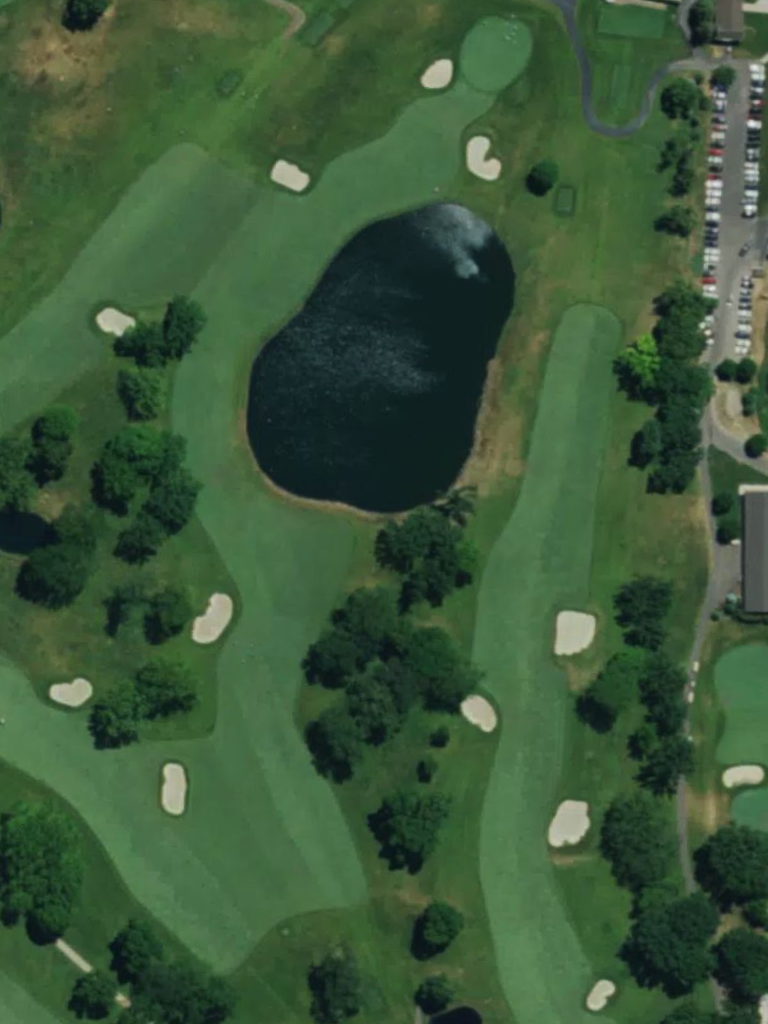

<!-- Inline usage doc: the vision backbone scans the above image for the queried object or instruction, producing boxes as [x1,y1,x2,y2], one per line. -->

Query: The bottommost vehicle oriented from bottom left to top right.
[737,243,752,259]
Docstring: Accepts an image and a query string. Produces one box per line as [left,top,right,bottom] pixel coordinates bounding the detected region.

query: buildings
[716,0,743,41]
[744,492,768,613]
